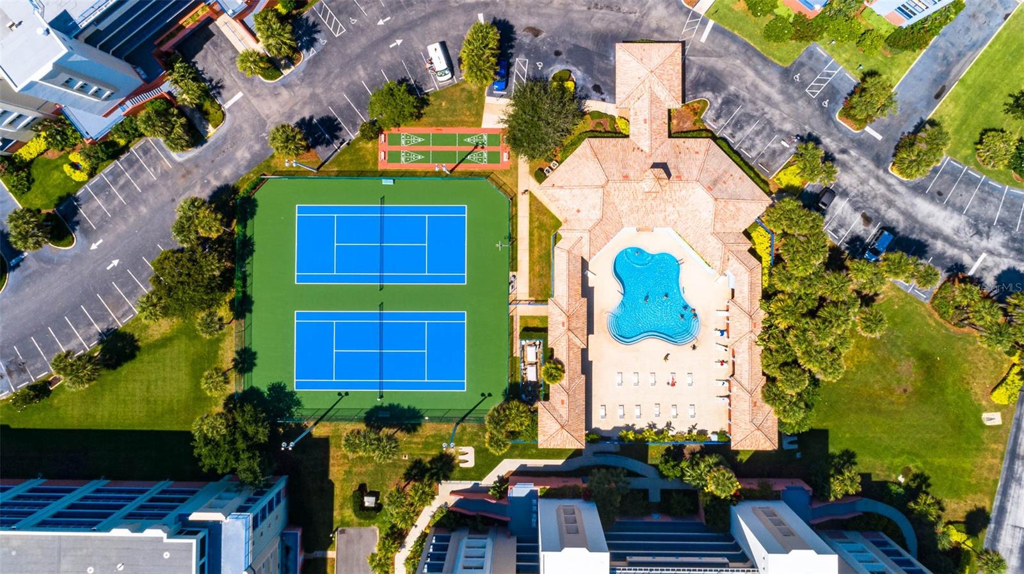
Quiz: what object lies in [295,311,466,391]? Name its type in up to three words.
tennis court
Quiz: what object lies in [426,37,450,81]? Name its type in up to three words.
vehicle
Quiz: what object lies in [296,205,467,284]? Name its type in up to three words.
tennis court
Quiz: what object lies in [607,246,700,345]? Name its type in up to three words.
swimming pool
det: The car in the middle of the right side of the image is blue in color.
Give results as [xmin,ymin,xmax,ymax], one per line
[865,230,898,263]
